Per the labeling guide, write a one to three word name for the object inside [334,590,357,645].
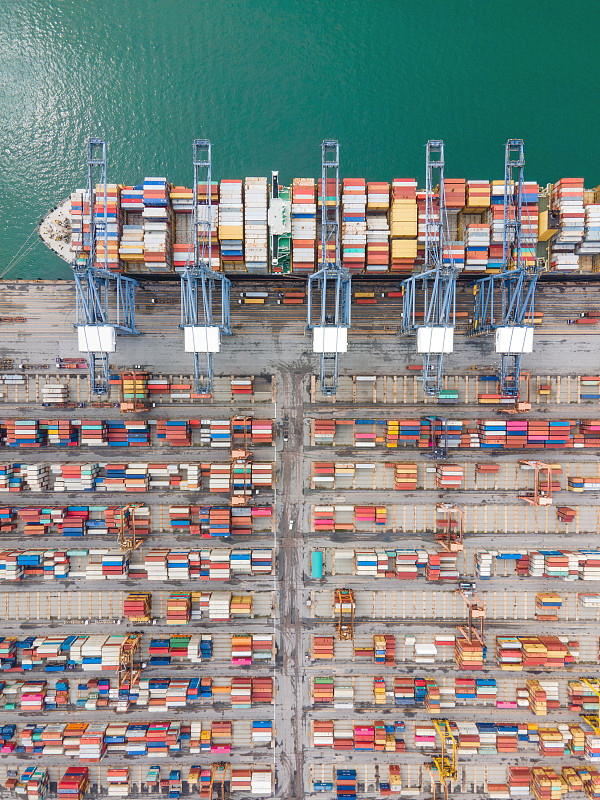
container crane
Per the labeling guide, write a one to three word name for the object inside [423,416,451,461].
container crane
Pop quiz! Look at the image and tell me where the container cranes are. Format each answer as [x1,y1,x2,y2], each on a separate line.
[580,676,600,735]
[120,371,150,415]
[229,416,253,461]
[118,633,146,690]
[179,138,239,393]
[72,138,148,393]
[423,416,451,461]
[302,139,352,393]
[120,503,147,552]
[208,762,231,800]
[229,460,254,507]
[430,720,459,784]
[517,460,553,508]
[394,138,456,393]
[334,590,357,645]
[454,590,486,644]
[462,138,541,393]
[498,371,534,415]
[435,503,466,554]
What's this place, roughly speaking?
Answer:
port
